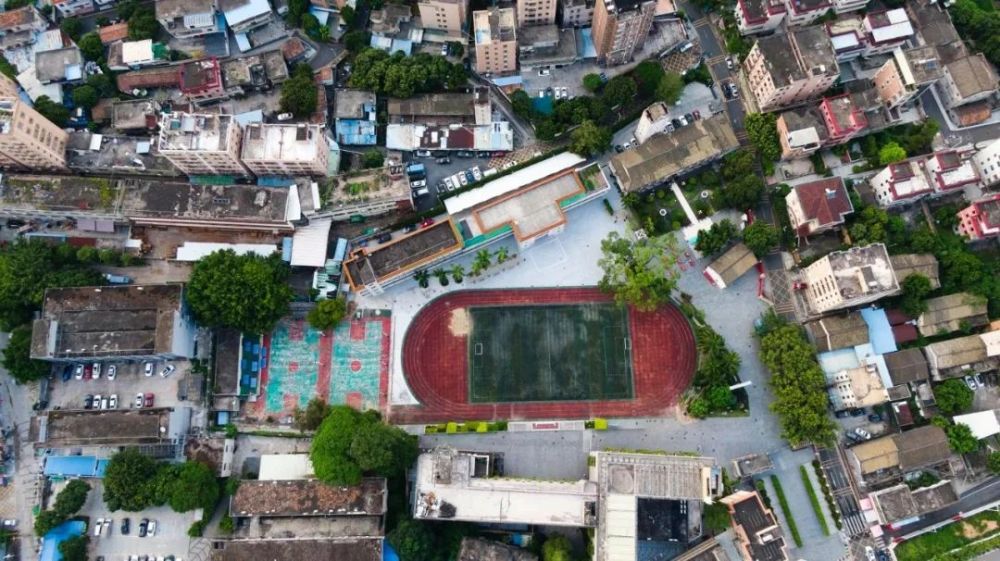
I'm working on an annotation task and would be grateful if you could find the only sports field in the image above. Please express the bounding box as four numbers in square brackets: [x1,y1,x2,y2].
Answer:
[467,303,636,405]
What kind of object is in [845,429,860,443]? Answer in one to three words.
vehicle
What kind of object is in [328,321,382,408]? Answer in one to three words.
basketball court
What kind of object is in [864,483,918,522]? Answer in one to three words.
house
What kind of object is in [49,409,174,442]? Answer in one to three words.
building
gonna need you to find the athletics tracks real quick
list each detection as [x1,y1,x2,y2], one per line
[390,287,699,420]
